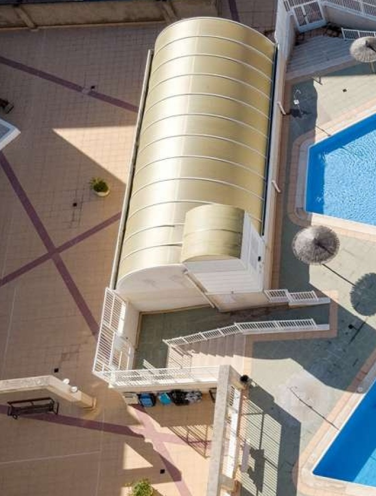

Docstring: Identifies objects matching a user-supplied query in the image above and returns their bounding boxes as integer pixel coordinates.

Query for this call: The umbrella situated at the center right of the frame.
[296,228,345,270]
